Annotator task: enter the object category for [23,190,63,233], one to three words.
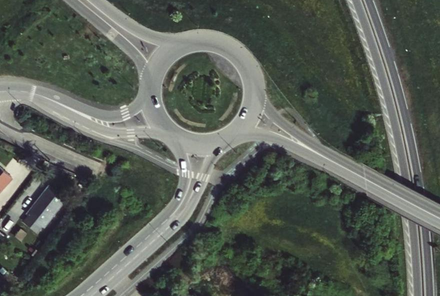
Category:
shed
